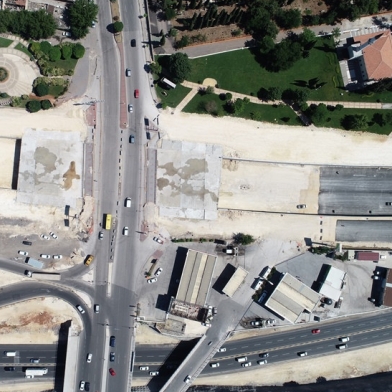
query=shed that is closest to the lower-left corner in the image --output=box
[157,317,187,334]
